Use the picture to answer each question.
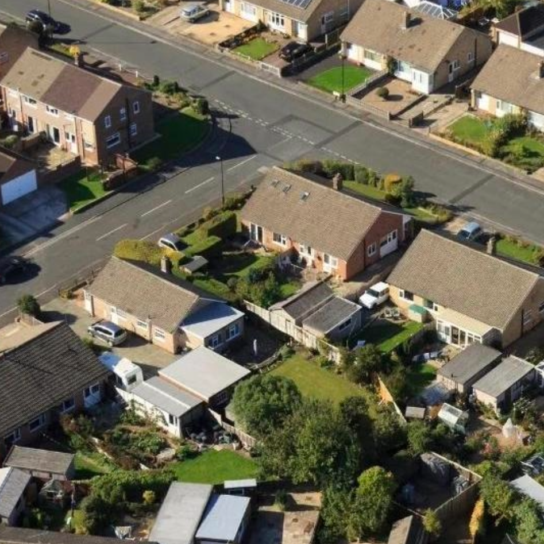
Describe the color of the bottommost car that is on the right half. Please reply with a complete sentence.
In this view, the bottommost car that is on the right half is white.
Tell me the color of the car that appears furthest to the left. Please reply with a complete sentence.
From above, the car that appears furthest to the left appears black.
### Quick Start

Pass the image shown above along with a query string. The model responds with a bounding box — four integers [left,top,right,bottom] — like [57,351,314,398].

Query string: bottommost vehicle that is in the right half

[358,275,390,308]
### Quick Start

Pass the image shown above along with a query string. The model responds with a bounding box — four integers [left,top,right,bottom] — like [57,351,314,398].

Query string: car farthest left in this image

[0,257,32,282]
